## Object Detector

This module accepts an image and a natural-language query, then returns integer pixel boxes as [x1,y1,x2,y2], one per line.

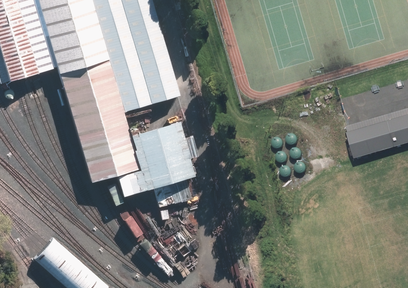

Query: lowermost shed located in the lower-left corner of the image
[37,238,108,288]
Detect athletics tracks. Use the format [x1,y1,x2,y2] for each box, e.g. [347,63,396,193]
[215,0,408,100]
